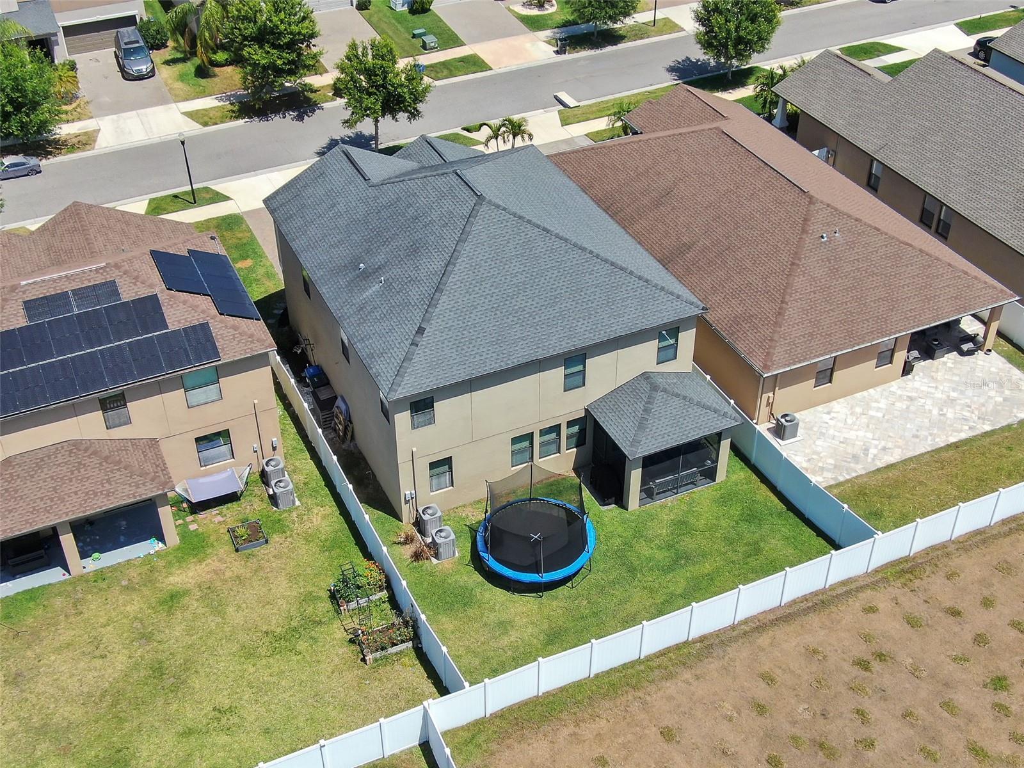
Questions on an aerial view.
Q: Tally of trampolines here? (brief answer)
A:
1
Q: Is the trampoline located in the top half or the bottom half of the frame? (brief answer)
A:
bottom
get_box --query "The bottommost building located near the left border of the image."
[0,202,279,603]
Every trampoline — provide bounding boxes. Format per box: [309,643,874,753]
[475,461,601,603]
